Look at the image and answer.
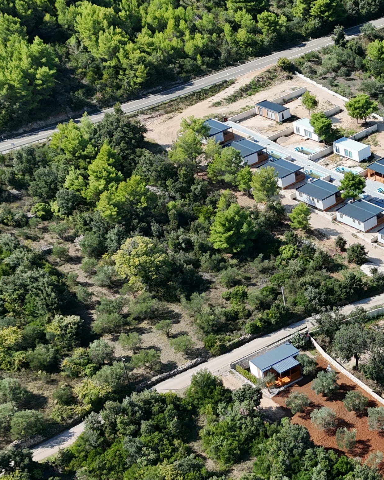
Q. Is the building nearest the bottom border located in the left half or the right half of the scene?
right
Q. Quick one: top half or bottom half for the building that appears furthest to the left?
top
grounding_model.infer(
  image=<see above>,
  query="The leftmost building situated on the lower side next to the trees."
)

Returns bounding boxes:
[249,341,302,386]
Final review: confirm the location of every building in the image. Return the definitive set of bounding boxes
[249,341,302,386]
[367,157,384,183]
[293,117,329,141]
[232,139,267,164]
[297,179,344,211]
[255,99,290,123]
[337,199,384,233]
[196,119,233,145]
[333,137,370,161]
[258,159,304,189]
